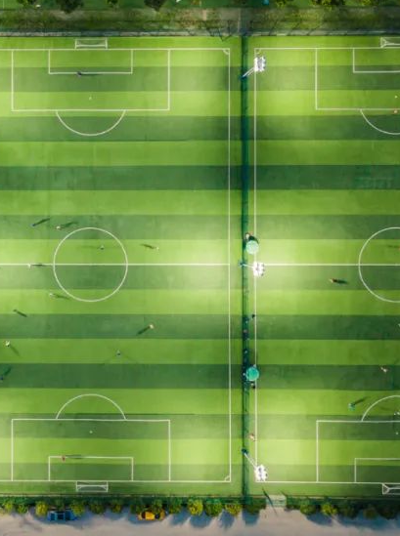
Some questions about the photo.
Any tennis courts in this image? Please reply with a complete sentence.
No, the photo shows no tennis court.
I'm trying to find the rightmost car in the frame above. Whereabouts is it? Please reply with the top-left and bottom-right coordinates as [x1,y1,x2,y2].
[137,507,165,524]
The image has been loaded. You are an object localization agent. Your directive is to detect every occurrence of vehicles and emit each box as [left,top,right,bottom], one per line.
[46,508,78,525]
[137,507,165,524]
